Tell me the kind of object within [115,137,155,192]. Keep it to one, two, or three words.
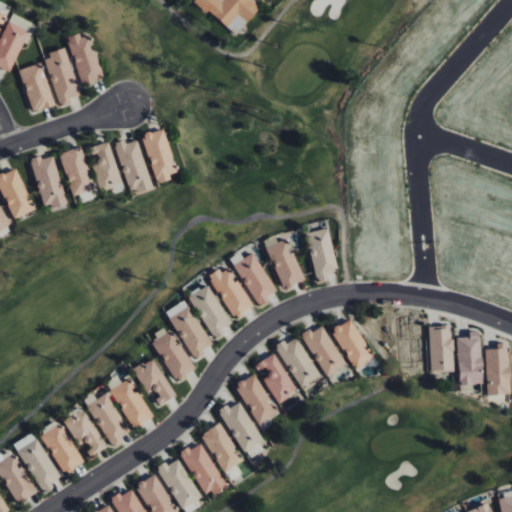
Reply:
house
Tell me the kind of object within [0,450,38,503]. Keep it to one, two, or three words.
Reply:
house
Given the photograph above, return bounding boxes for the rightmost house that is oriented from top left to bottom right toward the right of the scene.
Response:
[333,318,375,369]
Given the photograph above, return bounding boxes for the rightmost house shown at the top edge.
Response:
[194,0,264,34]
